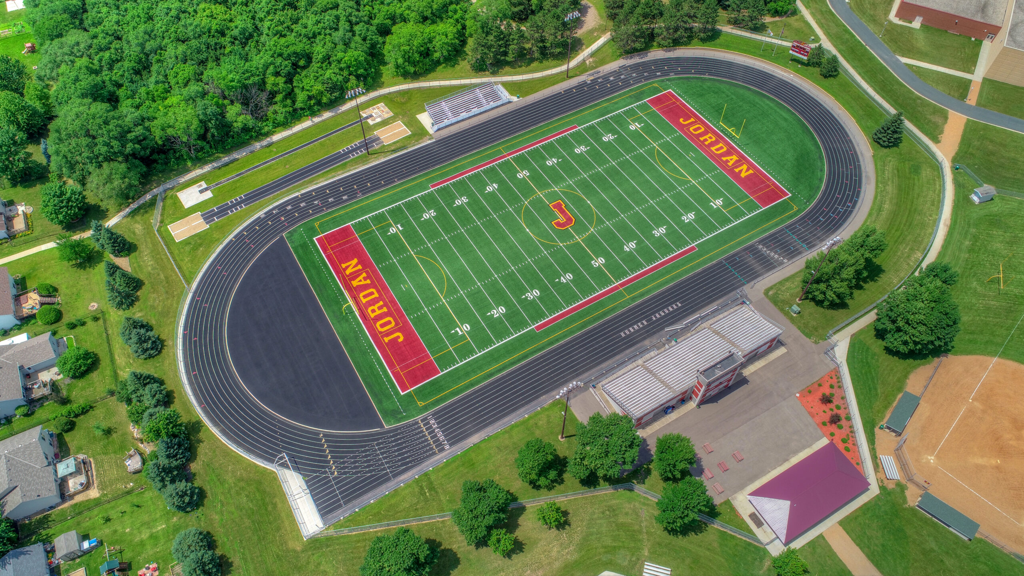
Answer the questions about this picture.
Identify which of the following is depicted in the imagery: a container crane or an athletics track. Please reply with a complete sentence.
There is an athletics track in the scene.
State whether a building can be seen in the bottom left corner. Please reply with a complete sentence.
Yes, a building is visible in the bottom left corner.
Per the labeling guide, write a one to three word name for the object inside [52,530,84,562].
shed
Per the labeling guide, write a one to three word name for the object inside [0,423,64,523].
house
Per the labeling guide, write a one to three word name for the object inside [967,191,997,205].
shed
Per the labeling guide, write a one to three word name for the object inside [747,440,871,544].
building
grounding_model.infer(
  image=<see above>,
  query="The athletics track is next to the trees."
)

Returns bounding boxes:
[184,57,864,476]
